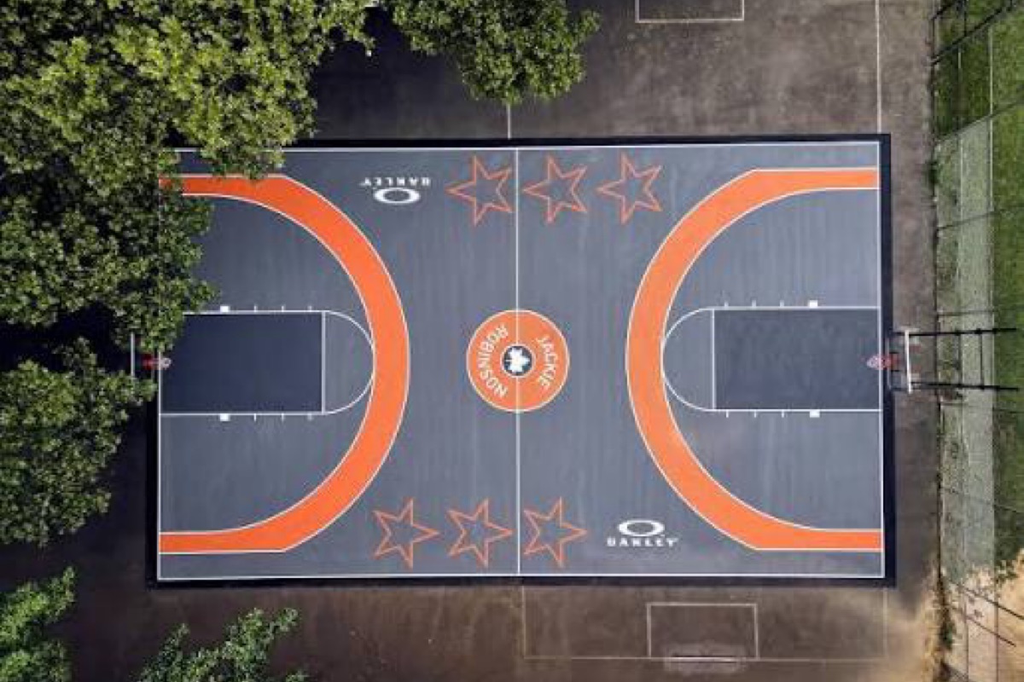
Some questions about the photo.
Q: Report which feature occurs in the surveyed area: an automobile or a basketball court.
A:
basketball court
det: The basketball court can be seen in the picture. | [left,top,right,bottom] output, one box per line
[148,134,896,588]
